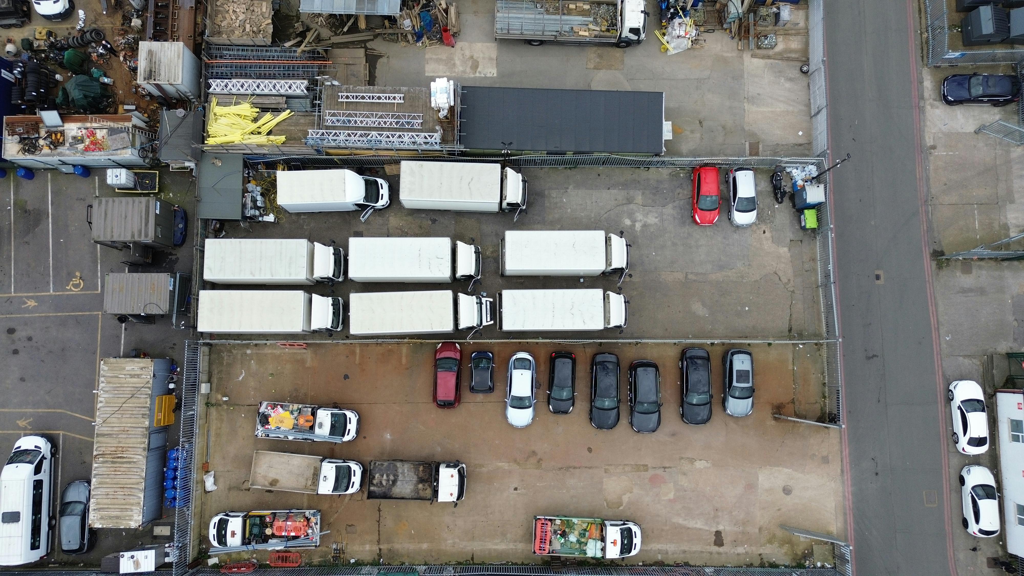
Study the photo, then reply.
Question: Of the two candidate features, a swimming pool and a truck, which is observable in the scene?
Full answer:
Visible in the photo is a truck.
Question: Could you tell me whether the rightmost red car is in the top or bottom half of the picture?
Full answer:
It is in the top half that the rightmost red car appears.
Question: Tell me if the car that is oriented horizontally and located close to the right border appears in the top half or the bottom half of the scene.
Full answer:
It is in the top half that the car that is oriented horizontally and located close to the right border appears.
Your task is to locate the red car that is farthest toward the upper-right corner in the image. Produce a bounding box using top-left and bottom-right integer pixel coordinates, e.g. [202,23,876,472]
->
[690,167,724,226]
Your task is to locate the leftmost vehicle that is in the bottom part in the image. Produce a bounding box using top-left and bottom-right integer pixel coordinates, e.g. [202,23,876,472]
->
[0,435,59,574]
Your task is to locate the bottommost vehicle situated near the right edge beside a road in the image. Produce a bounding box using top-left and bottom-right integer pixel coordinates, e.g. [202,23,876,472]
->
[957,465,1000,536]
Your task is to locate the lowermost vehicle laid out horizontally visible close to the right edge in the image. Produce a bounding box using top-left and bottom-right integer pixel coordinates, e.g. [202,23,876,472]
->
[938,70,1024,108]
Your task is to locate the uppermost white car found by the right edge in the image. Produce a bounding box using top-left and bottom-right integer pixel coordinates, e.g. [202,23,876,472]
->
[946,381,988,454]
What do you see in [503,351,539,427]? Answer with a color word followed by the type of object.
white car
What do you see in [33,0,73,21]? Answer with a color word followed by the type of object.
white vehicle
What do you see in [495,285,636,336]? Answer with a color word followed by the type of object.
white truck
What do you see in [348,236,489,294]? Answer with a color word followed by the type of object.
white truck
